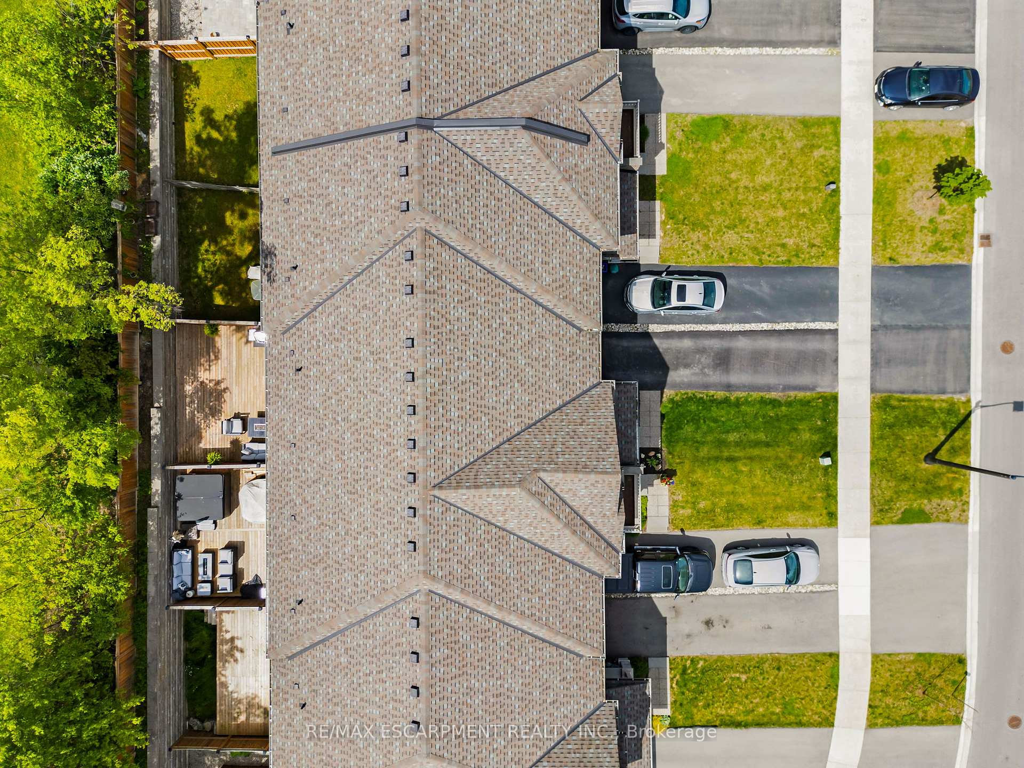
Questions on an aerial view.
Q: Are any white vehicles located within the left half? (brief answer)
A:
No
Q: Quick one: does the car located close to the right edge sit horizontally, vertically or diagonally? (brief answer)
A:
horizontally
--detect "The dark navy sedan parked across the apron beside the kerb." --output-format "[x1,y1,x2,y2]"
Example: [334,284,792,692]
[872,65,982,116]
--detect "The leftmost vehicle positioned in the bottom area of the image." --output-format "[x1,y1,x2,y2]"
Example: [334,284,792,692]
[608,541,715,595]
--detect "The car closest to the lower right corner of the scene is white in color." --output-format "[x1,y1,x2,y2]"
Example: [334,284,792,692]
[718,543,818,592]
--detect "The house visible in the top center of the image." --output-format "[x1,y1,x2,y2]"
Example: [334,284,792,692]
[255,0,640,332]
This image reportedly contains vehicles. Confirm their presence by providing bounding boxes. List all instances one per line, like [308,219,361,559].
[872,65,982,116]
[718,543,818,592]
[624,270,726,317]
[611,0,708,32]
[608,541,715,595]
